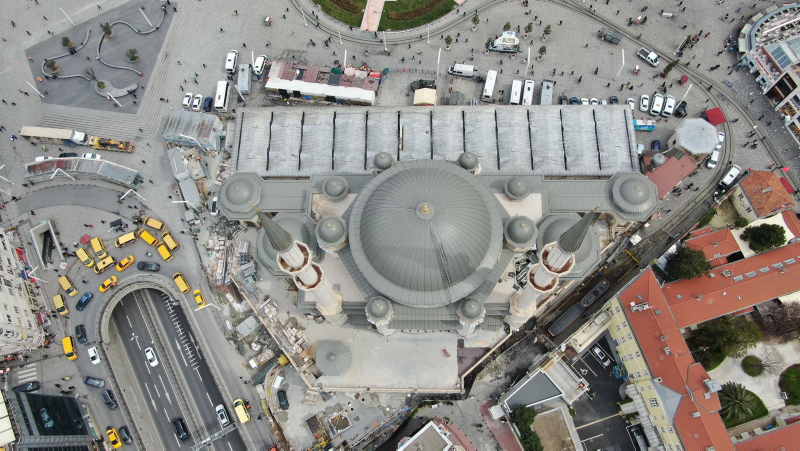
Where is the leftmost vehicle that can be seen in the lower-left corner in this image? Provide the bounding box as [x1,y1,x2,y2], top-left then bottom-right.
[9,379,39,395]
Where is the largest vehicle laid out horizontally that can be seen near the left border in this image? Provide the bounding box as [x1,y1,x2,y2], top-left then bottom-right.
[9,124,85,146]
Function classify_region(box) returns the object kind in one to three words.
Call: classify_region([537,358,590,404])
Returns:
building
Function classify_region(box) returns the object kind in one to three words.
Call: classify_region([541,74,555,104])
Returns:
vehicle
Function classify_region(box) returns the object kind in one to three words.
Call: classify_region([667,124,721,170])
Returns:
house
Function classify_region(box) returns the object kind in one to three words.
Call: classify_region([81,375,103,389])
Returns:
car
